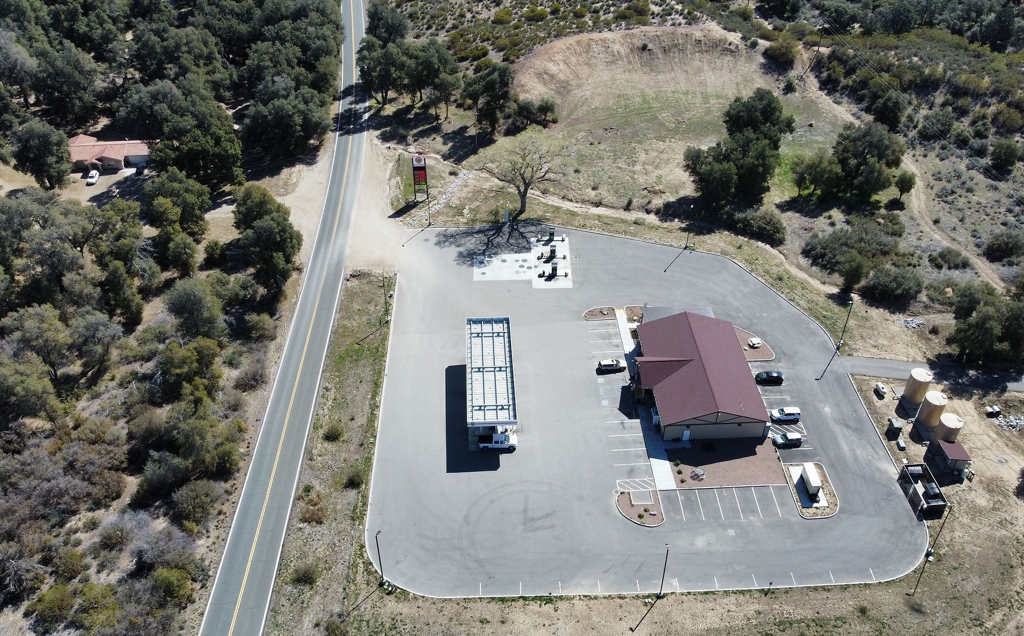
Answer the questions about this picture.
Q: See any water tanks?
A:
Yes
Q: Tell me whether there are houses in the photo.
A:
Yes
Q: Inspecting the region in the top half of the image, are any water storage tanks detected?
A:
No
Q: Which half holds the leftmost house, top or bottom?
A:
top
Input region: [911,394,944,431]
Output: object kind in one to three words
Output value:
water tank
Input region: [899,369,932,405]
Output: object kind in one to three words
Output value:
water tank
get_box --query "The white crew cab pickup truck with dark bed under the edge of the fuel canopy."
[477,434,517,452]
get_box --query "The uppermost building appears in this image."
[61,127,171,180]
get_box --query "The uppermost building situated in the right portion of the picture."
[632,307,770,441]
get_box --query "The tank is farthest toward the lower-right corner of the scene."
[925,417,960,455]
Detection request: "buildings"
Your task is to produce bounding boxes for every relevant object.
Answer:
[61,127,171,180]
[632,307,770,441]
[937,444,970,473]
